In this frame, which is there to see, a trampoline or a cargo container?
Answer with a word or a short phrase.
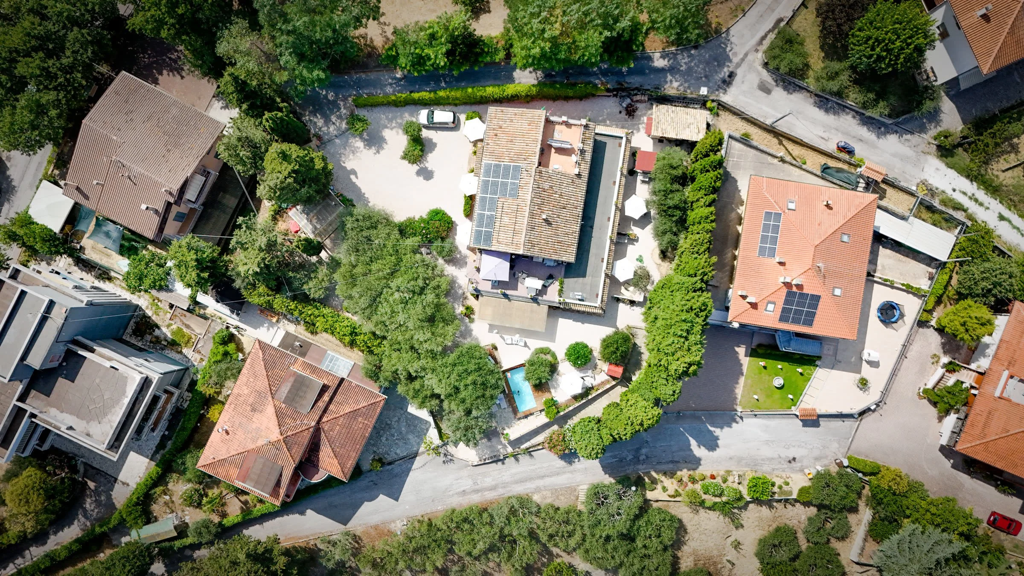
trampoline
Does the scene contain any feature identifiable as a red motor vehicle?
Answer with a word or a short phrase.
Yes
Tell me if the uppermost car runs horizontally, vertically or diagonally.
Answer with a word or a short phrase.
horizontally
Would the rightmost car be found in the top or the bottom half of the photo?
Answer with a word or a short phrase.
bottom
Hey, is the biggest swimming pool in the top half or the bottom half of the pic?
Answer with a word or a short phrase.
bottom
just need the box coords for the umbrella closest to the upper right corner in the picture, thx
[624,195,646,220]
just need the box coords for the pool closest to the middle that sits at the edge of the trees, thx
[502,363,553,419]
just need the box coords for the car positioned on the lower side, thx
[988,513,1024,536]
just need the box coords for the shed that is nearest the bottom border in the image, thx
[131,513,182,538]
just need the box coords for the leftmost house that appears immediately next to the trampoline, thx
[718,174,879,355]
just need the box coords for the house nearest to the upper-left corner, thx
[55,71,242,242]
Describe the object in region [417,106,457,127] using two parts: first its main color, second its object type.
white car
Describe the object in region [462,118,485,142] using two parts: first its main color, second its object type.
white umbrella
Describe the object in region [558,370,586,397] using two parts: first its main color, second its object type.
white umbrella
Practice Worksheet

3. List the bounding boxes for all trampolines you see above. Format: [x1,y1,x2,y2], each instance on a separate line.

[877,299,914,326]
